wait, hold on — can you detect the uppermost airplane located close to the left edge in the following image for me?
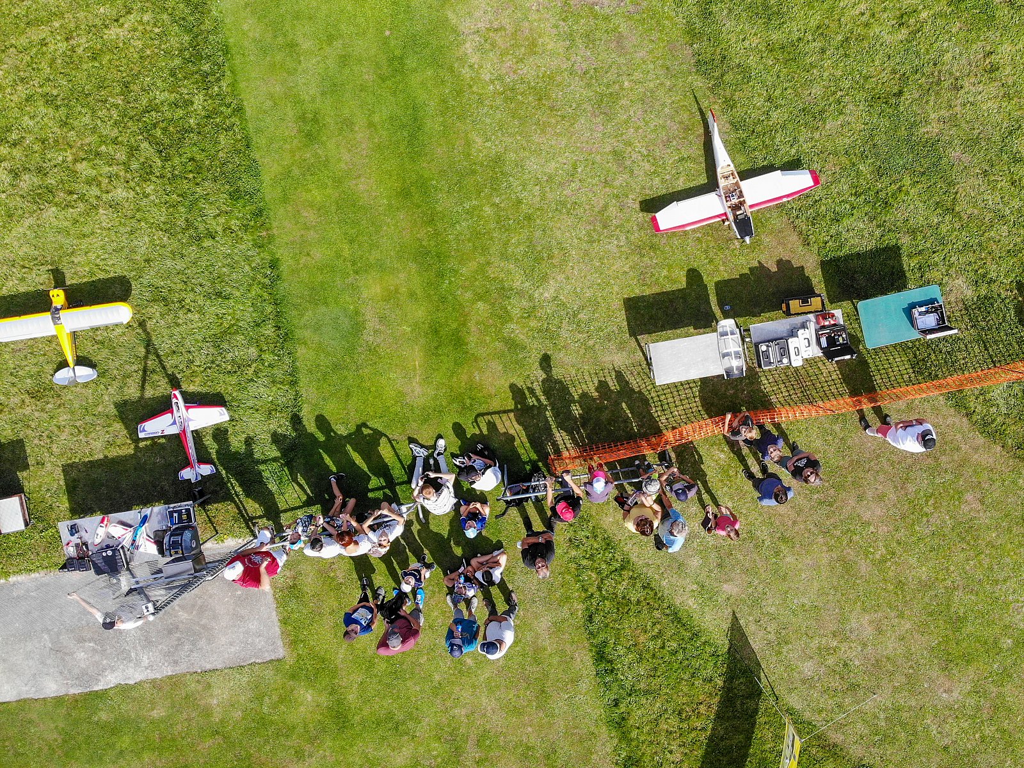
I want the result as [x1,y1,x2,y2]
[0,287,134,387]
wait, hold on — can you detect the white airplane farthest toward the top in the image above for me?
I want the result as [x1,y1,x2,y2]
[651,108,821,244]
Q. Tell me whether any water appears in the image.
No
